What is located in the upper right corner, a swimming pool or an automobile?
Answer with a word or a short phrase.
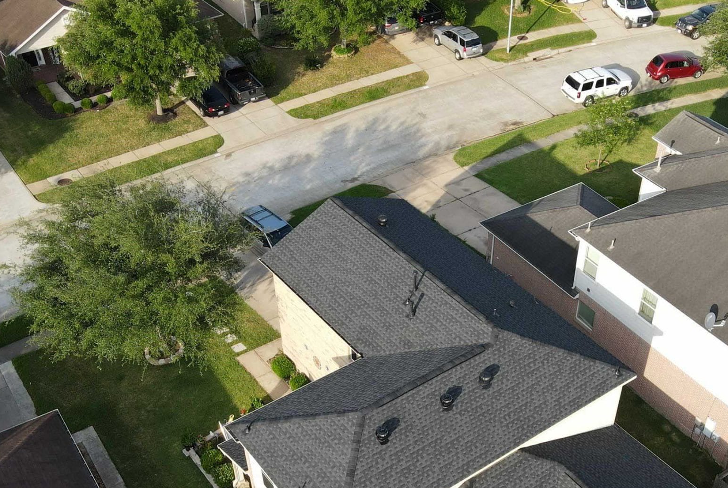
automobile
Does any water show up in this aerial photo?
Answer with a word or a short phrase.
No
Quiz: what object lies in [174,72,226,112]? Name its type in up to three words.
car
